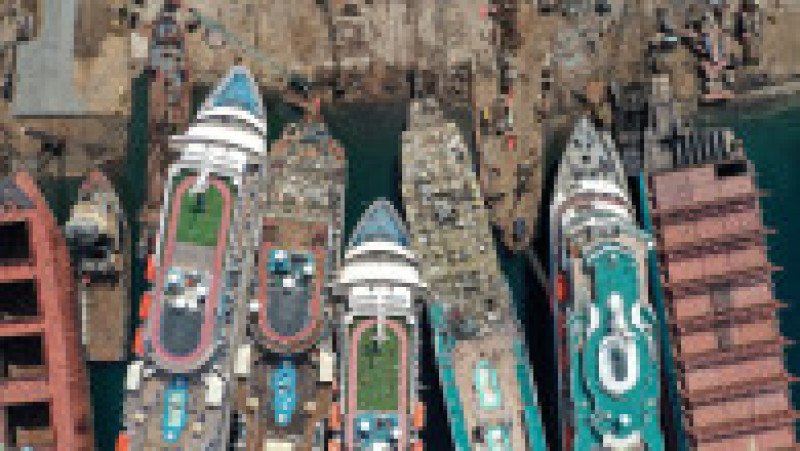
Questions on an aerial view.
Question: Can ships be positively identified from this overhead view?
Yes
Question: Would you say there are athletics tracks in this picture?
Yes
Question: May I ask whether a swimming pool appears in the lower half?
Yes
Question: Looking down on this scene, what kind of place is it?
parking lot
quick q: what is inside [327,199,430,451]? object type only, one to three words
ship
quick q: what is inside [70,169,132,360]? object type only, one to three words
vessel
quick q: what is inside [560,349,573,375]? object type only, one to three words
boat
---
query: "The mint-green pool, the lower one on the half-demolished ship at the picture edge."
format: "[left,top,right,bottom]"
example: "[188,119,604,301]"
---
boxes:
[482,424,510,451]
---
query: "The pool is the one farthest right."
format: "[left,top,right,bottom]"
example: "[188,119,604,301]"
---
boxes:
[600,331,638,395]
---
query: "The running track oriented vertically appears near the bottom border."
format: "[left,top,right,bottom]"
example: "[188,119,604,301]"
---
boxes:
[347,321,408,451]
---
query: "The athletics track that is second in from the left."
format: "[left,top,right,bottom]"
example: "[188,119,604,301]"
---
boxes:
[261,242,323,343]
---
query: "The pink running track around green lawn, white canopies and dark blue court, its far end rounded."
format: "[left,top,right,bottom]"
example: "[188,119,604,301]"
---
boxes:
[155,172,234,359]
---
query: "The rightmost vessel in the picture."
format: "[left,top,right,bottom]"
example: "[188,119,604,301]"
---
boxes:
[628,114,800,451]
